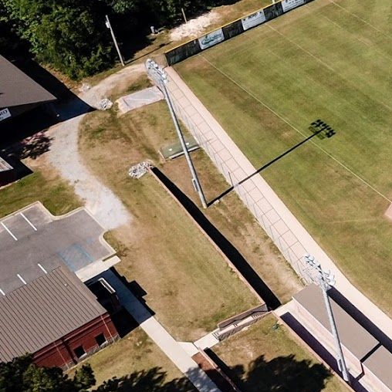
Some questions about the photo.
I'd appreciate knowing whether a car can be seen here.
No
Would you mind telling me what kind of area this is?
sports ground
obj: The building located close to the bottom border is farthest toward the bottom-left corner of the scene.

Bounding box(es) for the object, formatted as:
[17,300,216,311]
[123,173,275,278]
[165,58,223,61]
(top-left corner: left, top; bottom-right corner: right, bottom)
[0,264,122,392]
